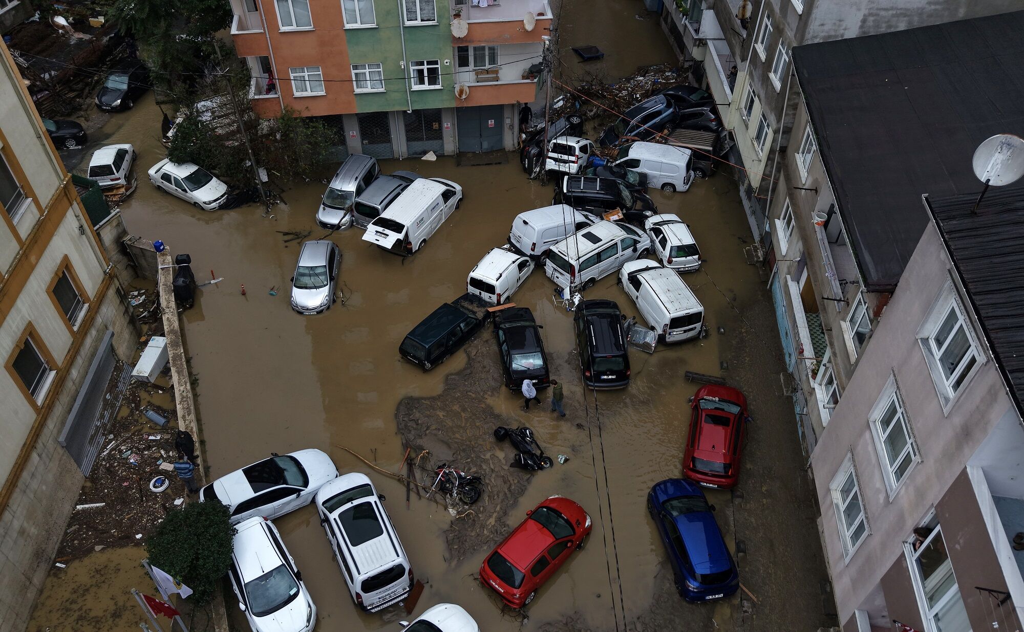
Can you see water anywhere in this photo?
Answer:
Yes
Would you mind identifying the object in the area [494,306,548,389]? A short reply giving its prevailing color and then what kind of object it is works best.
black car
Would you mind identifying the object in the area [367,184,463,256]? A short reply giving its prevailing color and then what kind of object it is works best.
white van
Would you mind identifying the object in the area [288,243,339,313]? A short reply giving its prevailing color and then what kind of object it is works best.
gray car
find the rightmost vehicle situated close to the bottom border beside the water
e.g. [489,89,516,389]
[651,477,739,605]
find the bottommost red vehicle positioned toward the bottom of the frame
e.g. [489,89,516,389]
[484,503,585,607]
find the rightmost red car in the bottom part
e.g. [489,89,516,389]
[685,385,752,489]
